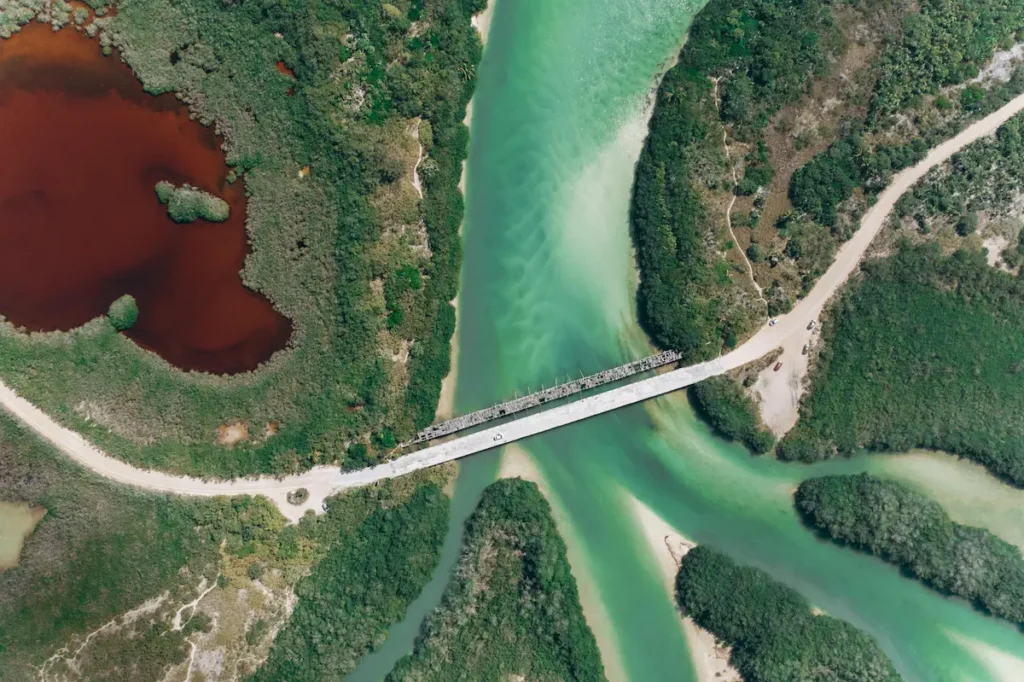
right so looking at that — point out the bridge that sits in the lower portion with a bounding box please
[380,361,713,482]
